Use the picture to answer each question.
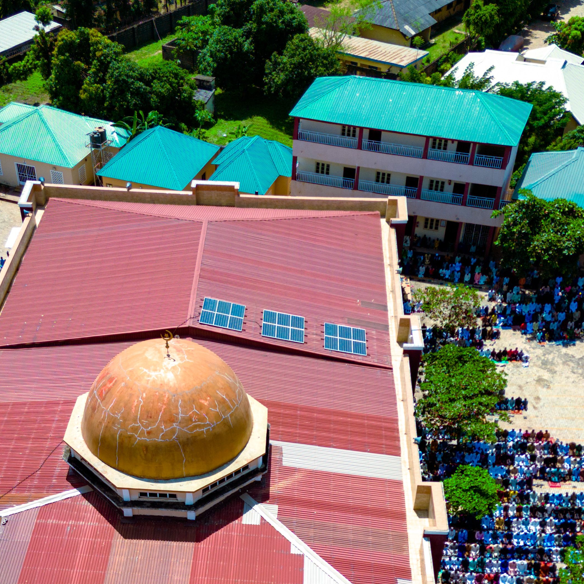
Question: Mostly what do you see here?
buildings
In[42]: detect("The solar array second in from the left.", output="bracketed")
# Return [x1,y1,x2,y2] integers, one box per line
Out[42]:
[258,309,309,343]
